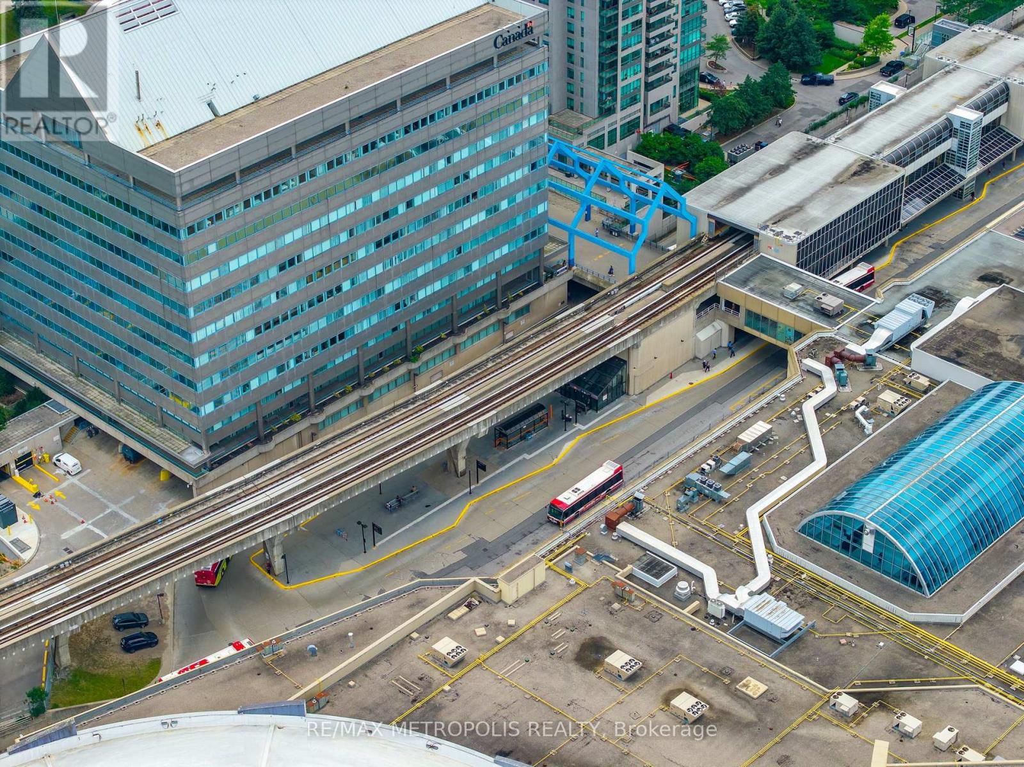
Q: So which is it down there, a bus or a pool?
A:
bus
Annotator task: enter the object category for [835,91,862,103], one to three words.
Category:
vehicle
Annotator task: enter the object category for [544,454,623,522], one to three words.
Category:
bus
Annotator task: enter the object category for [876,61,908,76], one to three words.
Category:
vehicle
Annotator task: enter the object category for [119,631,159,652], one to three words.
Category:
car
